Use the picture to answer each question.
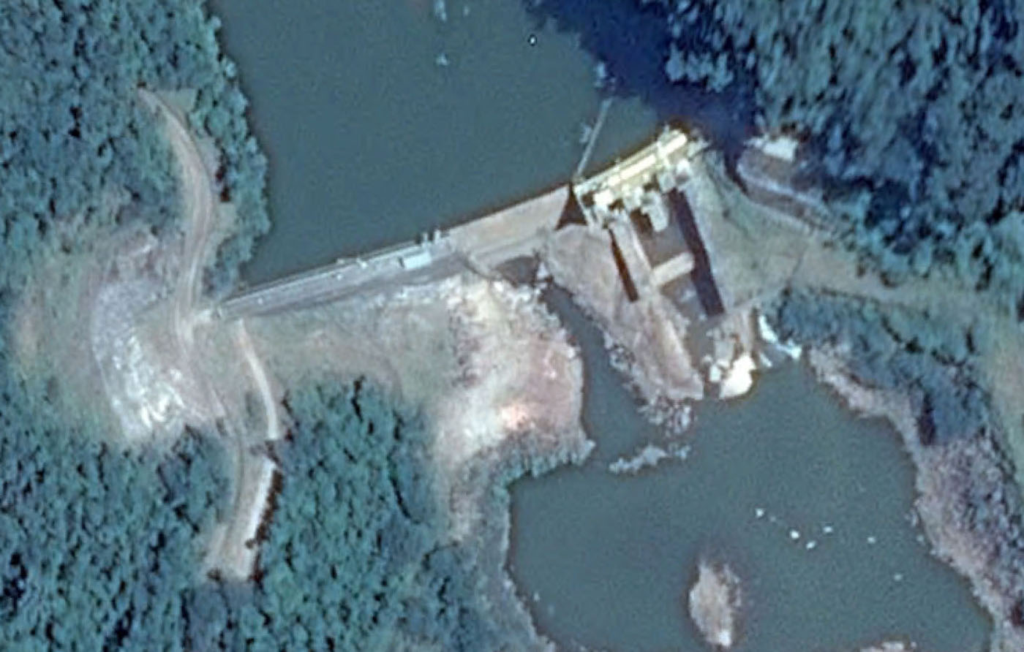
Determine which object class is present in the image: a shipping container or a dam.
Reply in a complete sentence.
There is a dam in the scene.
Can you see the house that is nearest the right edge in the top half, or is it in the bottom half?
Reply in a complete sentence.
You can find the house that is nearest the right edge in the top half.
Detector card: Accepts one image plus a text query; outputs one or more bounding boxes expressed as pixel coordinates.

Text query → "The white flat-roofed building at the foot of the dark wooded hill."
[746,136,799,161]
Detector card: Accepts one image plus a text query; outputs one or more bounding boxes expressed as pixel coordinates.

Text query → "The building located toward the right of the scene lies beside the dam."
[573,123,693,232]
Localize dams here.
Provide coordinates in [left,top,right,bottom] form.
[215,183,587,320]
